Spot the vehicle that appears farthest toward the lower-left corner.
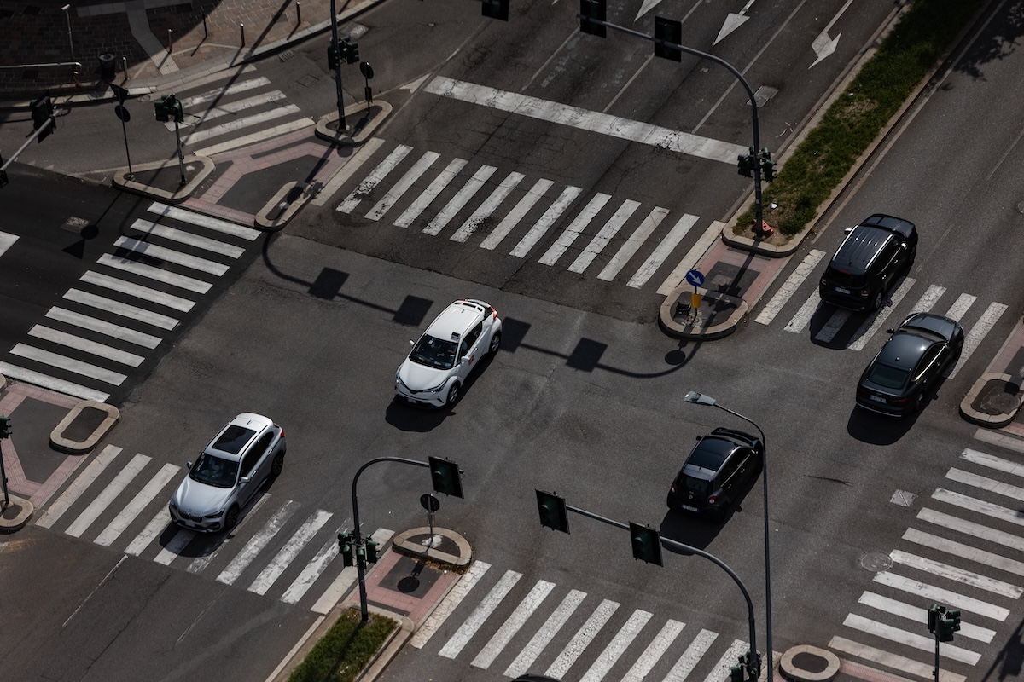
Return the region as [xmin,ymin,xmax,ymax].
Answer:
[164,412,284,530]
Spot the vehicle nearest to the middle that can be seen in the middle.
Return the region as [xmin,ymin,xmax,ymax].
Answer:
[392,300,501,405]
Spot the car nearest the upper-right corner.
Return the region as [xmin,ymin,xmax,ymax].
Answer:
[813,210,917,307]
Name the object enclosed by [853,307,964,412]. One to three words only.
car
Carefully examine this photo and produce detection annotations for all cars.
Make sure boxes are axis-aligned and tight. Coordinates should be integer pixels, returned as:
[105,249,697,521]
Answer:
[665,423,762,517]
[853,307,964,412]
[813,210,917,307]
[392,300,501,405]
[164,412,284,530]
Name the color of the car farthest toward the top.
black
